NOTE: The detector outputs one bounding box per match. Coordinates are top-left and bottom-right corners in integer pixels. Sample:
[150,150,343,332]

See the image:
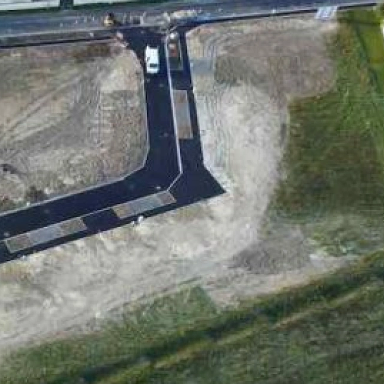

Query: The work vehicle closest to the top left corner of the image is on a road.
[104,7,119,27]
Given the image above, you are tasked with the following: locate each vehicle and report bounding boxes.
[104,7,119,27]
[146,47,162,72]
